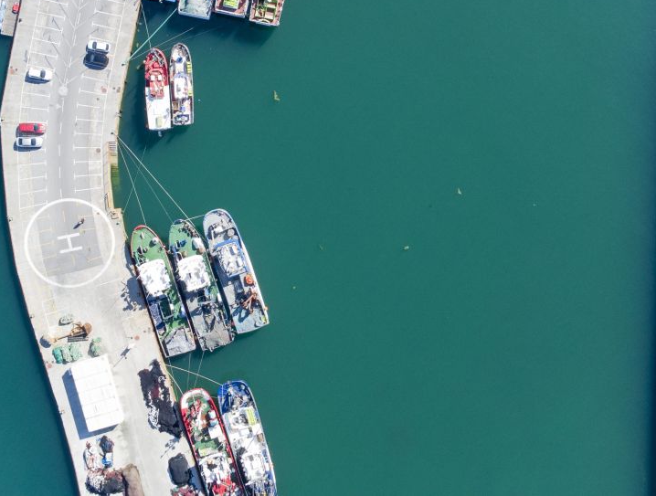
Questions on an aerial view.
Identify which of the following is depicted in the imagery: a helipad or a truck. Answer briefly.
helipad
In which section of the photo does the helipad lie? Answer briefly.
left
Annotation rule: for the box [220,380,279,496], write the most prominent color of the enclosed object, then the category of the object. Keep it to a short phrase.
white boat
